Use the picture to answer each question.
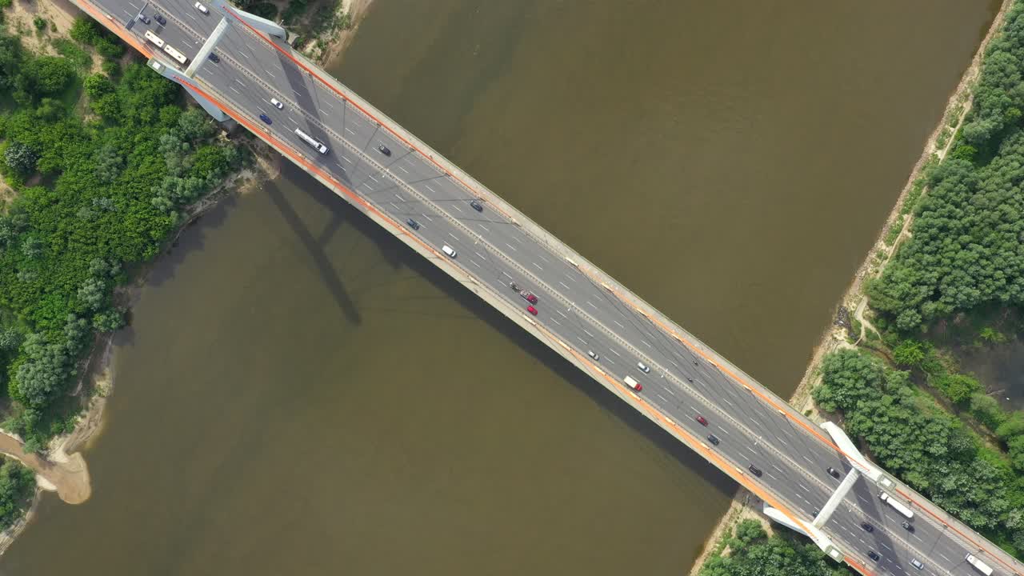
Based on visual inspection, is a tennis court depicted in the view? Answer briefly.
No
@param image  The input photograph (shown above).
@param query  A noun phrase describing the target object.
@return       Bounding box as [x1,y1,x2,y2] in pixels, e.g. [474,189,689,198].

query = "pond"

[962,341,1024,413]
